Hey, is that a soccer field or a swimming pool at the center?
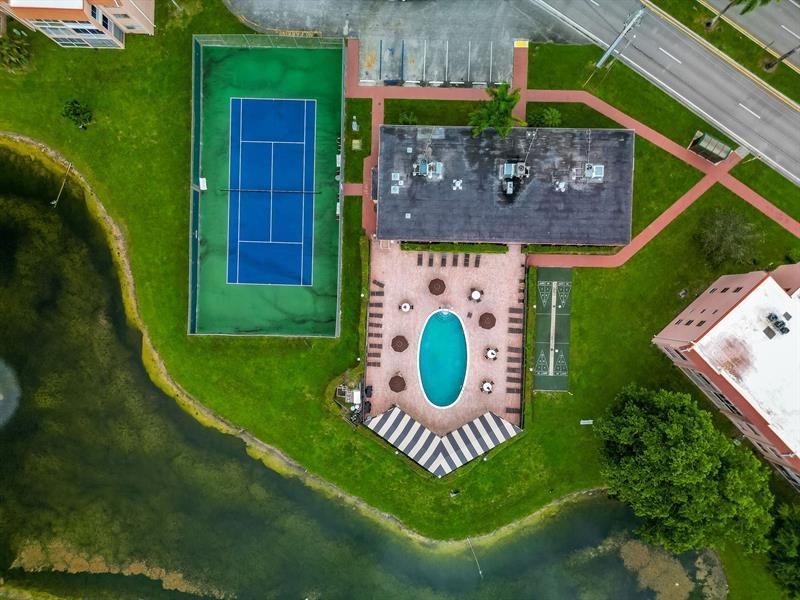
swimming pool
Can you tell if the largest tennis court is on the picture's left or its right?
left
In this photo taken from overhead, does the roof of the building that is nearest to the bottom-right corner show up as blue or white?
white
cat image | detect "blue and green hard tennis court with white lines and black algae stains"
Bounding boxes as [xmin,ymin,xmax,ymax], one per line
[197,47,345,336]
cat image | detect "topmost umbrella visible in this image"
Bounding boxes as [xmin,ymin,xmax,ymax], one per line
[428,278,445,295]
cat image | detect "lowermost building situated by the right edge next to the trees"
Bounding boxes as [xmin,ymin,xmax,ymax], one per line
[652,262,800,492]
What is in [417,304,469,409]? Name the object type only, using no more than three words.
swimming pool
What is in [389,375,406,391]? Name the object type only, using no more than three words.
umbrella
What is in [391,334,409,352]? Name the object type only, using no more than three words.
umbrella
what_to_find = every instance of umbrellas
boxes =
[428,278,445,295]
[391,334,409,352]
[478,312,495,329]
[389,375,406,391]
